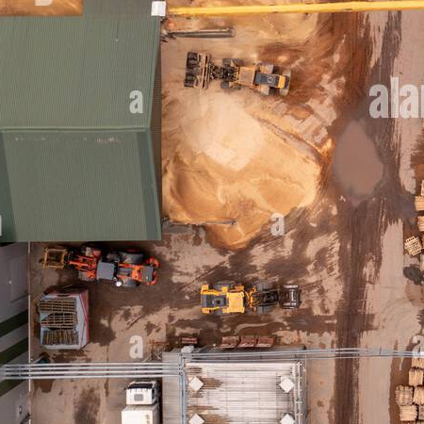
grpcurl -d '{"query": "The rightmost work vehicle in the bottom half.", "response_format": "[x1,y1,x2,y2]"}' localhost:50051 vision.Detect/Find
[199,280,299,317]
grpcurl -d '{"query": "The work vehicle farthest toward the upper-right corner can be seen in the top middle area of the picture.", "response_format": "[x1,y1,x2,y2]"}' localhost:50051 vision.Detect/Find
[190,50,292,95]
